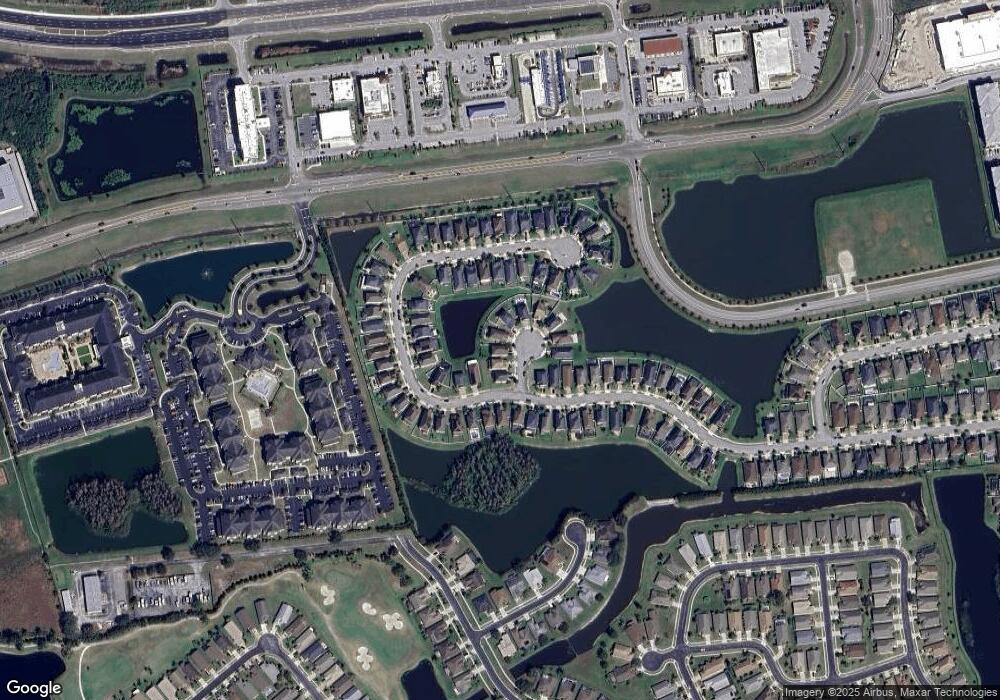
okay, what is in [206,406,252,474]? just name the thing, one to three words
building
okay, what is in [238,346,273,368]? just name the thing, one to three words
building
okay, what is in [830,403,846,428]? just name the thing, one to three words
house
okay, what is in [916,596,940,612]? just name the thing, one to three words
house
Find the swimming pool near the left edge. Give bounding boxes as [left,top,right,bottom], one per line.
[42,351,62,374]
